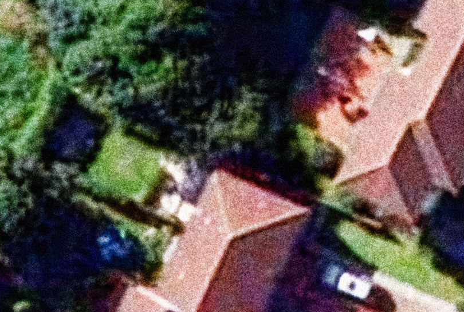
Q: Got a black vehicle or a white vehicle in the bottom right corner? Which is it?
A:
white vehicle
